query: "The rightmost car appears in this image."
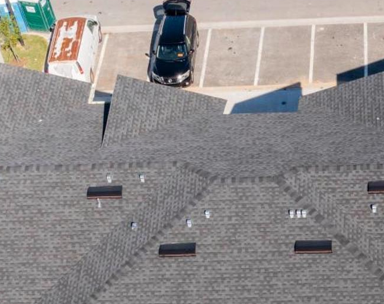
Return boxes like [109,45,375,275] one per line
[147,0,199,89]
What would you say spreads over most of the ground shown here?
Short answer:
buildings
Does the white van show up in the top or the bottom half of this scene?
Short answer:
top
